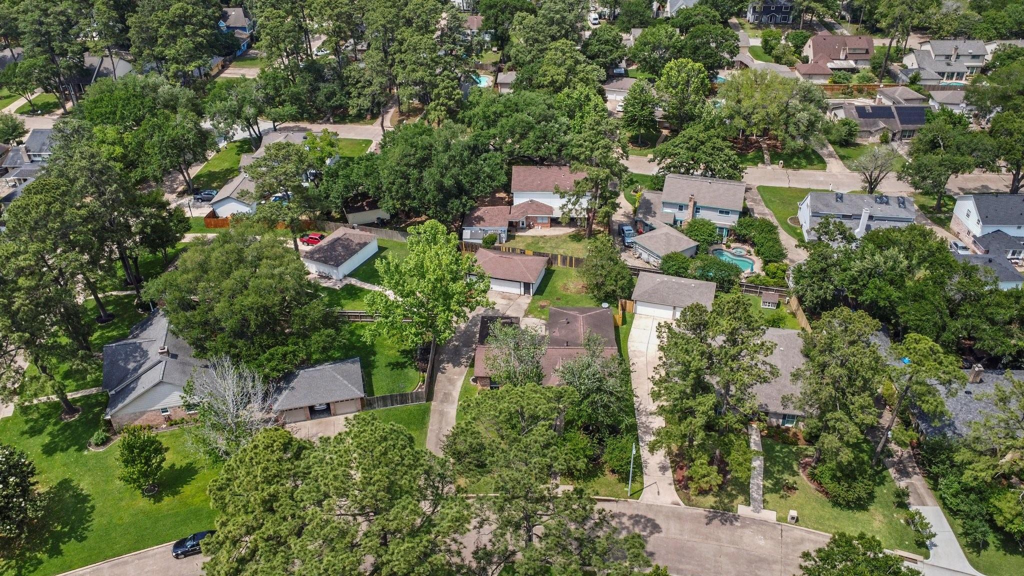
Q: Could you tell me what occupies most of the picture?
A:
trees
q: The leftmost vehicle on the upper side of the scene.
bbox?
[187,185,223,201]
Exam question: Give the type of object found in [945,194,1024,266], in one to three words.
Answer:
house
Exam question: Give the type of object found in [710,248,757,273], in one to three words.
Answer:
swimming pool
